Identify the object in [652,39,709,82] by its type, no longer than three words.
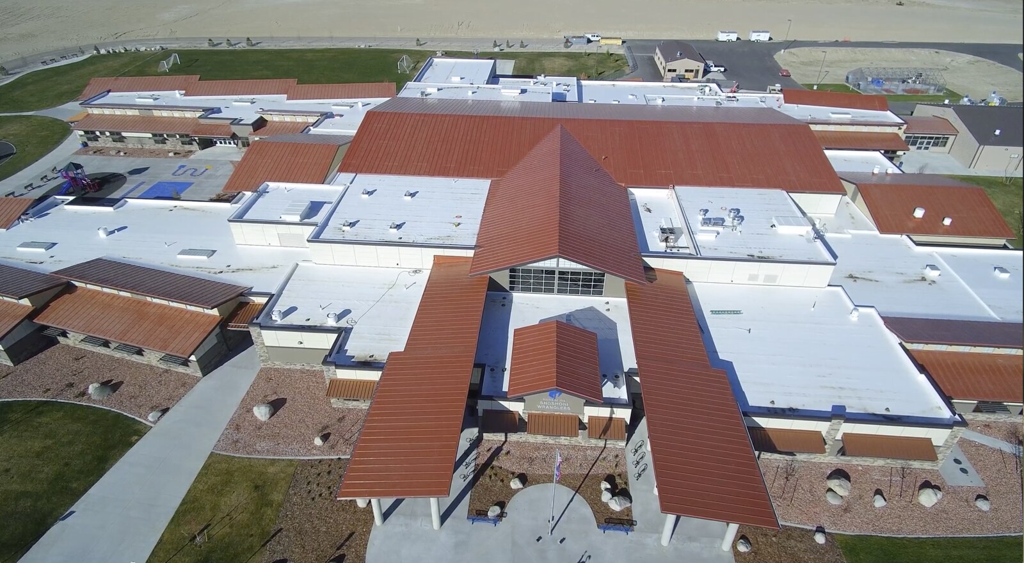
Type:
building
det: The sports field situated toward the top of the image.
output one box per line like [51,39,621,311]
[0,49,628,113]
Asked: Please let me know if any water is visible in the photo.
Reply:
No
